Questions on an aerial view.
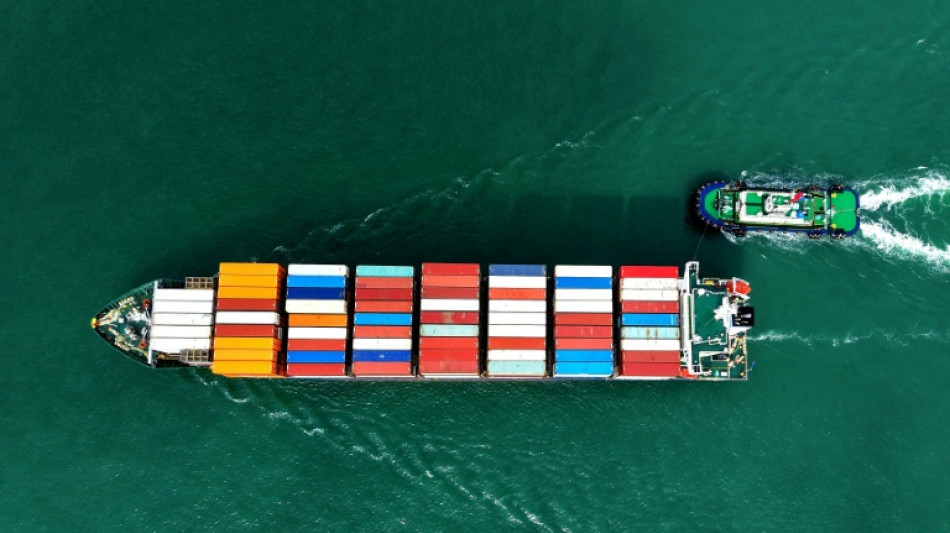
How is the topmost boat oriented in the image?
from side to side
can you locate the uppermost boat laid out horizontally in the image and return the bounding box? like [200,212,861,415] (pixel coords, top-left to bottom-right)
[688,179,860,240]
